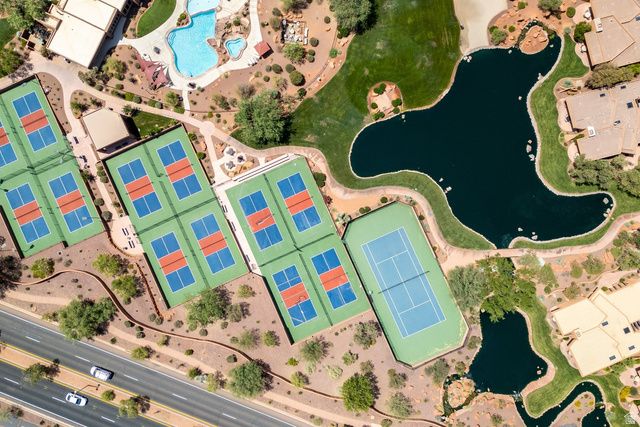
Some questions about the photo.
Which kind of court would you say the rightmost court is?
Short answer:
tennis court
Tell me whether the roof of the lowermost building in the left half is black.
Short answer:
No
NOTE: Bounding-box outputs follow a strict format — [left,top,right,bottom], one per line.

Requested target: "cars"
[66,391,89,406]
[91,366,112,381]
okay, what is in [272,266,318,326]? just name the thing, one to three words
sports court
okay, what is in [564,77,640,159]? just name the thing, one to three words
house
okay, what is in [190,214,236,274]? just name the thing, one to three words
sports court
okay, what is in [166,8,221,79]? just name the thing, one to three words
swimming pool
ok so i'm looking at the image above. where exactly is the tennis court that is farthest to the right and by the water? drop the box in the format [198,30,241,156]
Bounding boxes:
[344,203,468,366]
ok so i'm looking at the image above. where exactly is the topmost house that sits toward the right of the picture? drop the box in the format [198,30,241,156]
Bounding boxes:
[583,0,640,68]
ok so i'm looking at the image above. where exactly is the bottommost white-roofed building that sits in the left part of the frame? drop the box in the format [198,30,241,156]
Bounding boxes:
[82,108,136,156]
